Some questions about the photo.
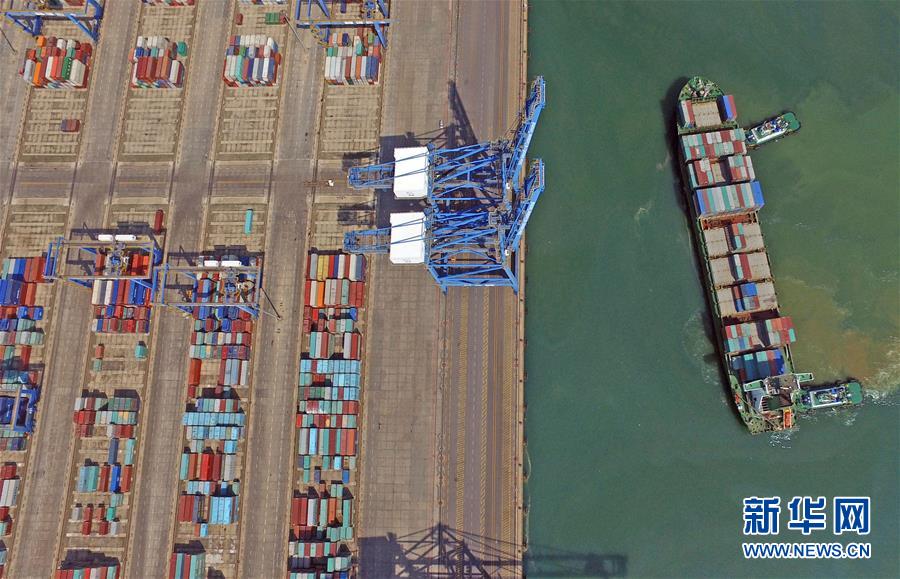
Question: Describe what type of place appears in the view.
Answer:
port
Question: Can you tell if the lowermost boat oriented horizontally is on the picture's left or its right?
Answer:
right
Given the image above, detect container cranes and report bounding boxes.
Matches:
[149,260,269,318]
[0,381,43,440]
[295,0,397,51]
[346,81,549,229]
[45,233,170,293]
[0,0,106,43]
[342,165,549,295]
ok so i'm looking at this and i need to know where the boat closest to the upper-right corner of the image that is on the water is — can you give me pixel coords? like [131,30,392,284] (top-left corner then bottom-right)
[750,113,802,150]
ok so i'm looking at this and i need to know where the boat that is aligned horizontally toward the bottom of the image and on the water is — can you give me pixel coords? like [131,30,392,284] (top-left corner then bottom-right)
[800,381,864,410]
